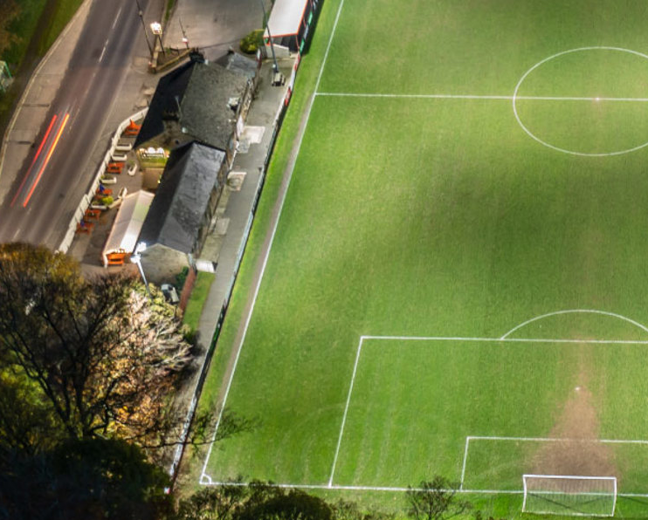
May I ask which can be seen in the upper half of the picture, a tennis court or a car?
car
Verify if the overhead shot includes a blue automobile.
No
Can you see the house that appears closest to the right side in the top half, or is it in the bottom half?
top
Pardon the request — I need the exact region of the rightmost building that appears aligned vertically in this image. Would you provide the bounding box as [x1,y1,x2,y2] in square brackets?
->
[132,36,254,282]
